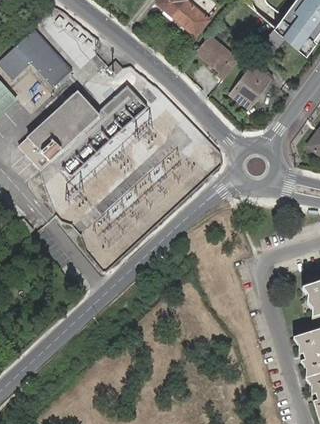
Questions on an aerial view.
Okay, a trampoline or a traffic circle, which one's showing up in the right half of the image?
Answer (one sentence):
The feature located in the right half of the image is a traffic circle.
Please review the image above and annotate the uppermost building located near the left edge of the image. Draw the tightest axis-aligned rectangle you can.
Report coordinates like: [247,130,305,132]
[0,30,72,89]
